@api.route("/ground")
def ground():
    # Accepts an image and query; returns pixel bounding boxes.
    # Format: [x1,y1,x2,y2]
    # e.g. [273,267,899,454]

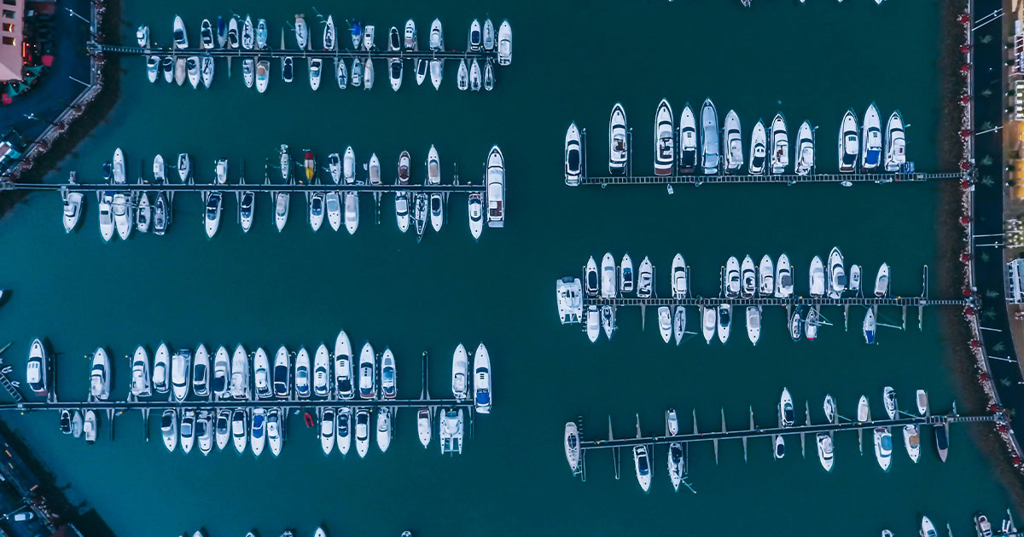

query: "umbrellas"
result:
[3,94,16,103]
[43,56,56,65]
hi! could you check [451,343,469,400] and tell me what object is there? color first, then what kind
white boat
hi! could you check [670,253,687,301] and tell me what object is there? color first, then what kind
white boat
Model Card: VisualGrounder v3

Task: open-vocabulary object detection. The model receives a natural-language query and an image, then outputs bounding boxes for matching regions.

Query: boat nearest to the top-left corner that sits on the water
[137,22,151,47]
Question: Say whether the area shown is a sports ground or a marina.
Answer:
marina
